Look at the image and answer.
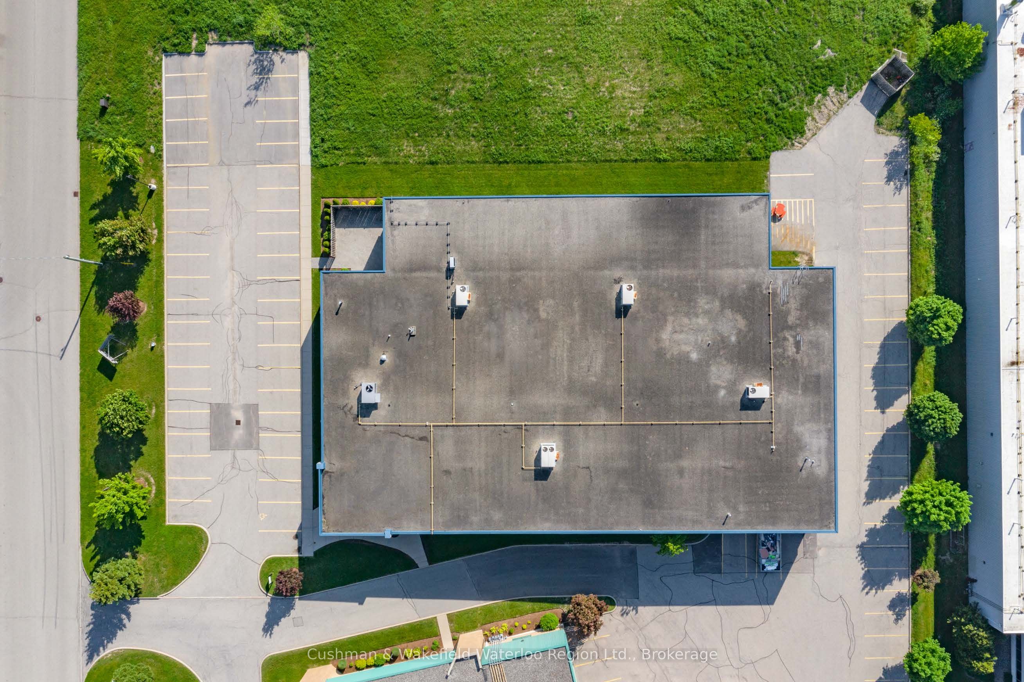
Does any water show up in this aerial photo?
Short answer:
No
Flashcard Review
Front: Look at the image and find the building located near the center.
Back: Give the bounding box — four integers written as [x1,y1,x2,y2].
[318,193,838,537]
